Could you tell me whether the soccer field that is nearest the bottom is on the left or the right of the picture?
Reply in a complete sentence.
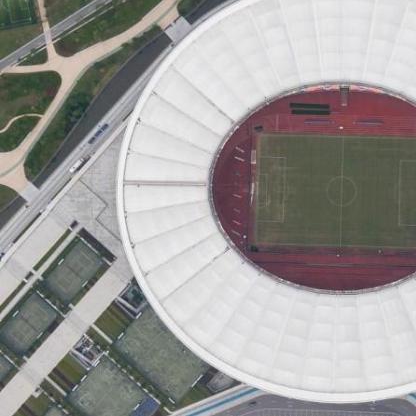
You can find the soccer field that is nearest the bottom on the right side of the picture.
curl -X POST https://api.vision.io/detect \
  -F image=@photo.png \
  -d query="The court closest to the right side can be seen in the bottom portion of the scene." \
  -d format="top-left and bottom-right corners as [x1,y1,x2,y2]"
[115,301,206,399]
